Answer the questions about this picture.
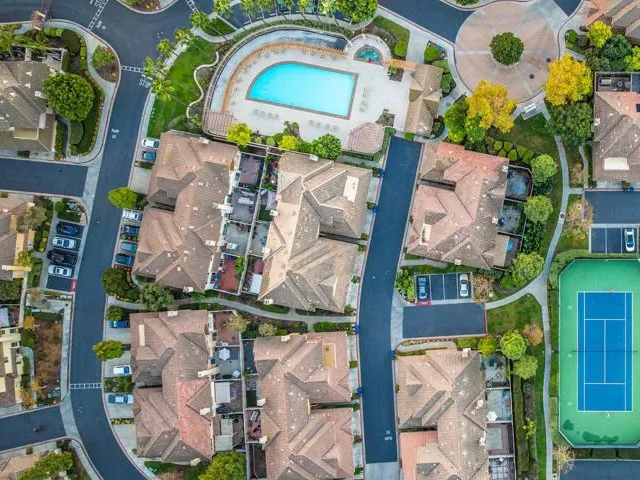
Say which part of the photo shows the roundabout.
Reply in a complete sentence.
The roundabout appears toward the top right of the photo.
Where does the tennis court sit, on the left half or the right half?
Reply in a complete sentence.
The tennis court sits on the right side.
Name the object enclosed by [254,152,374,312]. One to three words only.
house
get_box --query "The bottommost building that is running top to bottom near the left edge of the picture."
[0,325,37,405]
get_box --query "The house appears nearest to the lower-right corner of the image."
[399,345,492,480]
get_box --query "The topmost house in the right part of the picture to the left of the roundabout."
[403,64,442,138]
